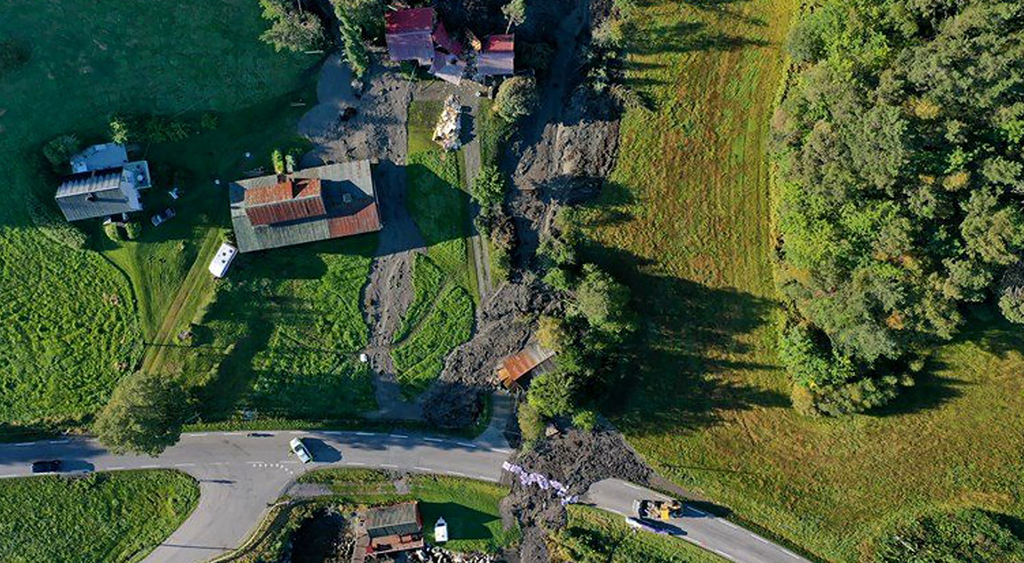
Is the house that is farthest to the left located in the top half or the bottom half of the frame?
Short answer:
top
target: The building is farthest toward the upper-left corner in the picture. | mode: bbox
[53,142,155,222]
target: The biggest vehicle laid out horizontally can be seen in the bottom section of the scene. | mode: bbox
[631,497,681,521]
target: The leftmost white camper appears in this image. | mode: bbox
[210,240,241,277]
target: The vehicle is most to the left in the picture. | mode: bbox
[33,458,64,473]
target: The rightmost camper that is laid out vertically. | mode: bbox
[434,509,448,541]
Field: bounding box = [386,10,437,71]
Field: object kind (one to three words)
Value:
barn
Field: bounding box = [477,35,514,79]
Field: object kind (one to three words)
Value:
barn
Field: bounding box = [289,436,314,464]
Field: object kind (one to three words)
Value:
car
